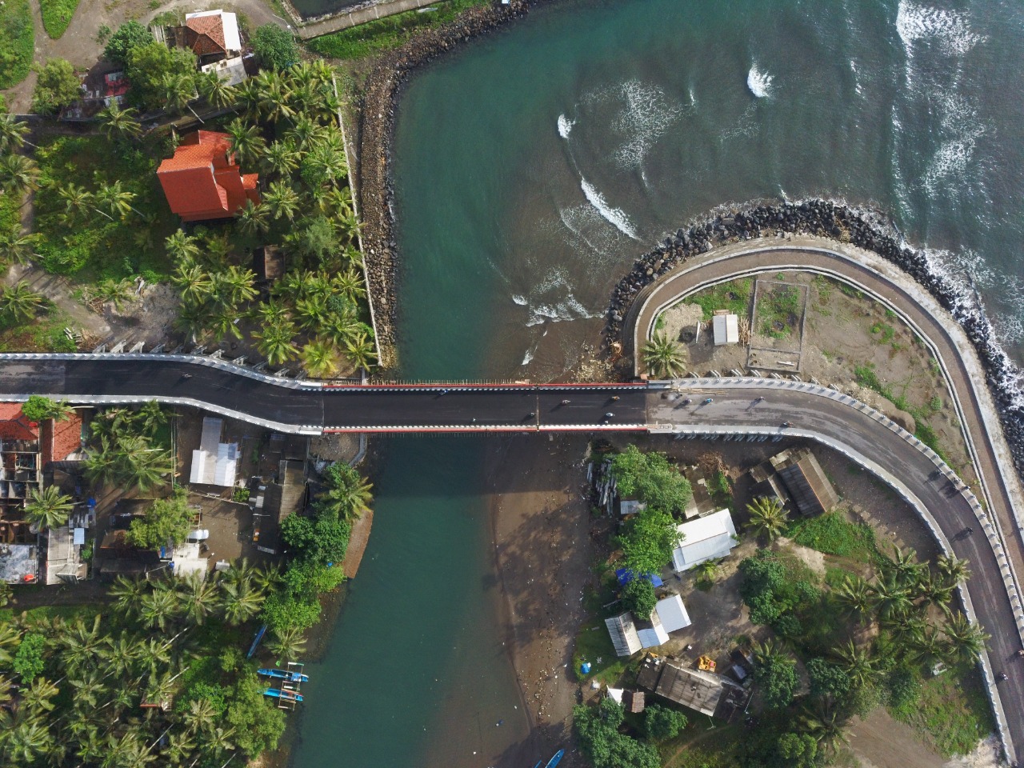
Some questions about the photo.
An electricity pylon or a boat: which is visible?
boat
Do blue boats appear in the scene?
Yes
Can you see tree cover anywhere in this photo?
Yes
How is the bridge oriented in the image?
from side to side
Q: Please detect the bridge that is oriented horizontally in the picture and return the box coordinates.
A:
[321,379,647,438]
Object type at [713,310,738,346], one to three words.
shed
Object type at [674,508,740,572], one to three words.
house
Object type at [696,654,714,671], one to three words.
work vehicle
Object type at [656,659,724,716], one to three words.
building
